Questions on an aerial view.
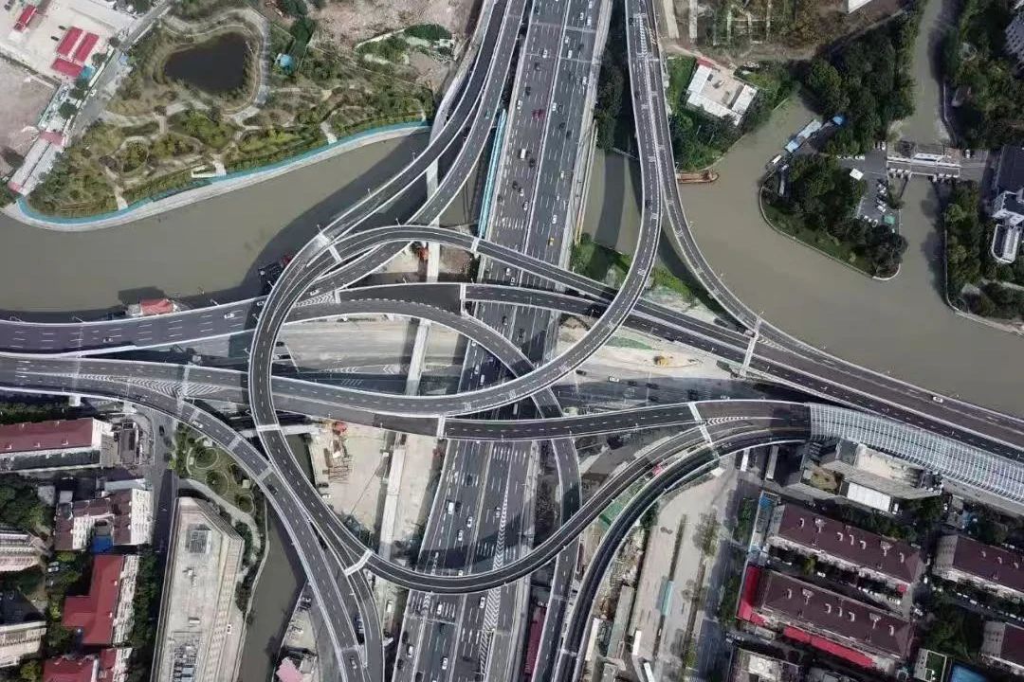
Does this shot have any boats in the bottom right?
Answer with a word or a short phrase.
No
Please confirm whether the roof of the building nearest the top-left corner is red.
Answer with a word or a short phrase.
Yes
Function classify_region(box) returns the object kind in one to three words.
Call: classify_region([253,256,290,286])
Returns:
ship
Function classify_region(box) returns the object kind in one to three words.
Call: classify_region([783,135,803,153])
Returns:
boat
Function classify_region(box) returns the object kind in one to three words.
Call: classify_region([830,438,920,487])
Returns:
building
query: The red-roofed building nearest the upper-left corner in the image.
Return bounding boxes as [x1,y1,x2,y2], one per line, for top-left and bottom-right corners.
[15,4,41,37]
